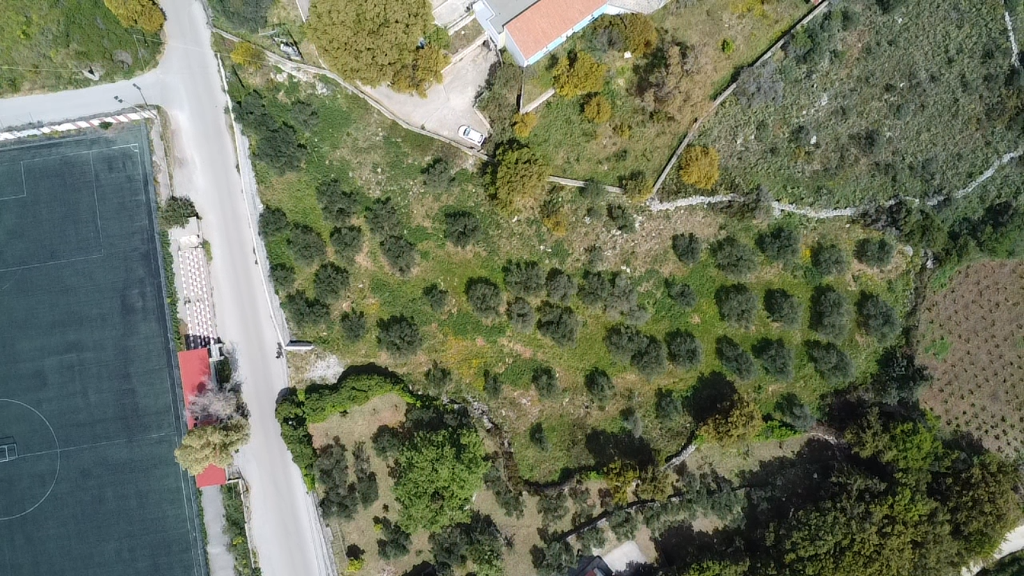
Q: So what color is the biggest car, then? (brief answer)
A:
white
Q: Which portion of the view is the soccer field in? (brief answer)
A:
left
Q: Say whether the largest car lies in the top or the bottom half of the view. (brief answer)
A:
top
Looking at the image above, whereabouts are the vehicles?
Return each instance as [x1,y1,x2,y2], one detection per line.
[277,344,282,357]
[458,125,487,147]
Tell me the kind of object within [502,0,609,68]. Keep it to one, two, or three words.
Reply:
house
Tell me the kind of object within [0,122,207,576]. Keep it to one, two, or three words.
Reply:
soccer field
